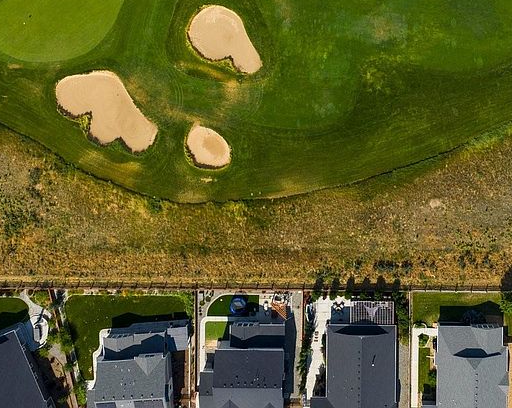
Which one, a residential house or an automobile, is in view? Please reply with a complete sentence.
It is a residential house that can be seen here.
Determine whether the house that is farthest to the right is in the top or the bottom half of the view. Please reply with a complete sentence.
You can find the house that is farthest to the right in the bottom half.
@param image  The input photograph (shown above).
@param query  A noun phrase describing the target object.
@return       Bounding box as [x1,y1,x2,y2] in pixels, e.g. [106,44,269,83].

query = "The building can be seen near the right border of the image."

[436,321,507,408]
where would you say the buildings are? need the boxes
[0,325,58,408]
[310,319,398,408]
[436,321,507,408]
[86,324,189,408]
[198,321,286,408]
